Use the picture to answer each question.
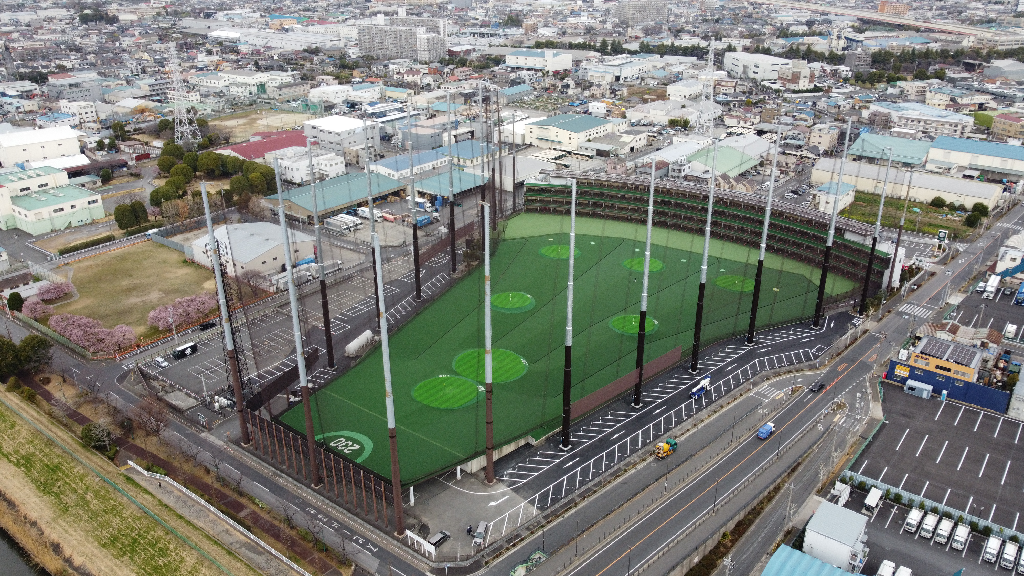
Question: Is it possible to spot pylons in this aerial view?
Yes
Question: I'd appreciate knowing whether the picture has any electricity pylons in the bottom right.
No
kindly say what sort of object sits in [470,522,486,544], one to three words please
vehicle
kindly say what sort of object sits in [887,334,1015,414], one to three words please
building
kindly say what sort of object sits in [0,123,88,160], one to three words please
building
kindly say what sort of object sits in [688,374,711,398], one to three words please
truck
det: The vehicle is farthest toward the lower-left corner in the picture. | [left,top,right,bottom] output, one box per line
[156,355,168,368]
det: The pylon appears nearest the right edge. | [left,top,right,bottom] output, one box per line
[686,37,722,136]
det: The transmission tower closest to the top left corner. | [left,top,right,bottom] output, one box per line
[169,42,203,144]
